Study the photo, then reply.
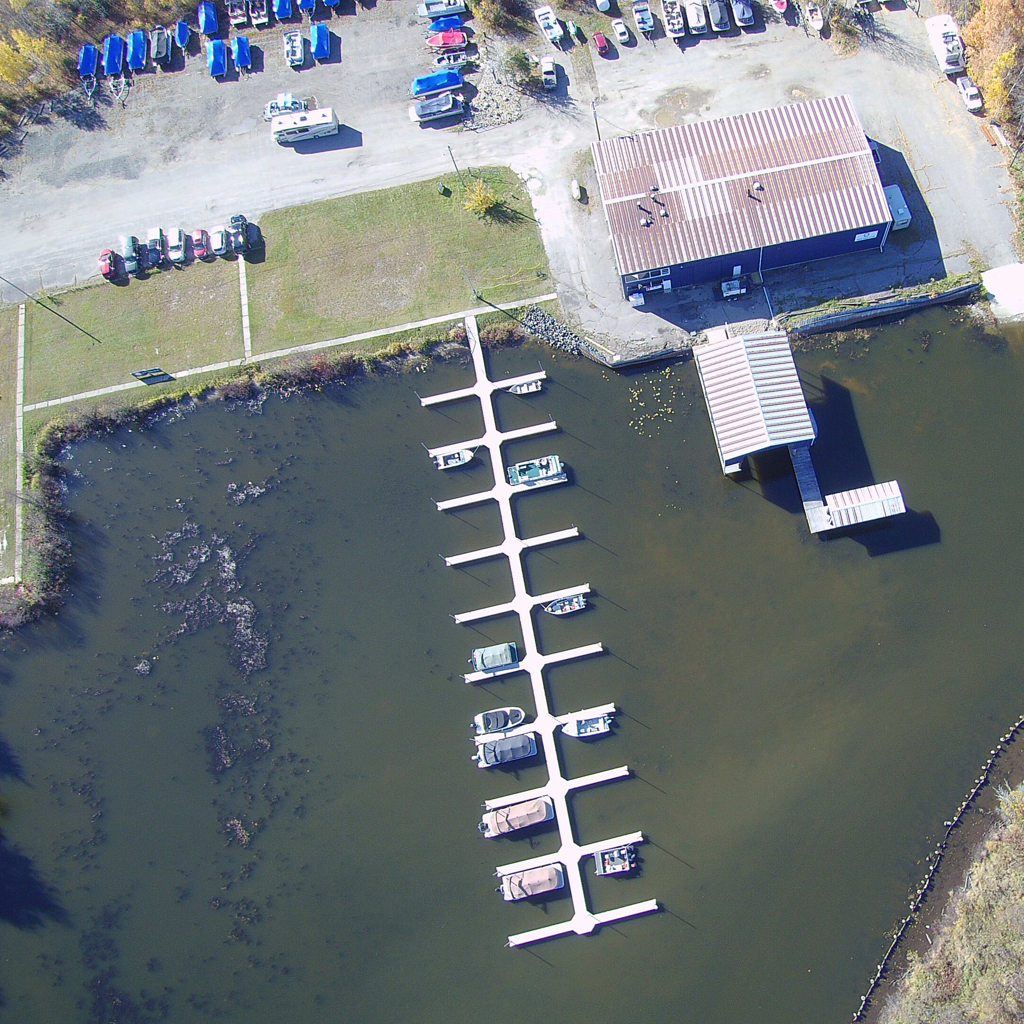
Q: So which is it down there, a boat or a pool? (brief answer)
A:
boat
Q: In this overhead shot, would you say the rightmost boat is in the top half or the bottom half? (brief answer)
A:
top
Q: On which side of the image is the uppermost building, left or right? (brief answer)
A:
right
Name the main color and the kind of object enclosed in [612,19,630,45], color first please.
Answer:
white car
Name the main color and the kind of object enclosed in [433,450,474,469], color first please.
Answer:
white boat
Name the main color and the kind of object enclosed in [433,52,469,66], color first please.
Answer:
white boat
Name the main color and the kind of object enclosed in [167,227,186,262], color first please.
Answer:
white car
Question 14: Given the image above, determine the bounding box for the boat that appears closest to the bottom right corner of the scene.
[596,846,632,876]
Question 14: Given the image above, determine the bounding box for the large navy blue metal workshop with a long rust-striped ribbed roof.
[590,95,891,299]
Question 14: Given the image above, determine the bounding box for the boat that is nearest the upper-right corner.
[929,19,963,78]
